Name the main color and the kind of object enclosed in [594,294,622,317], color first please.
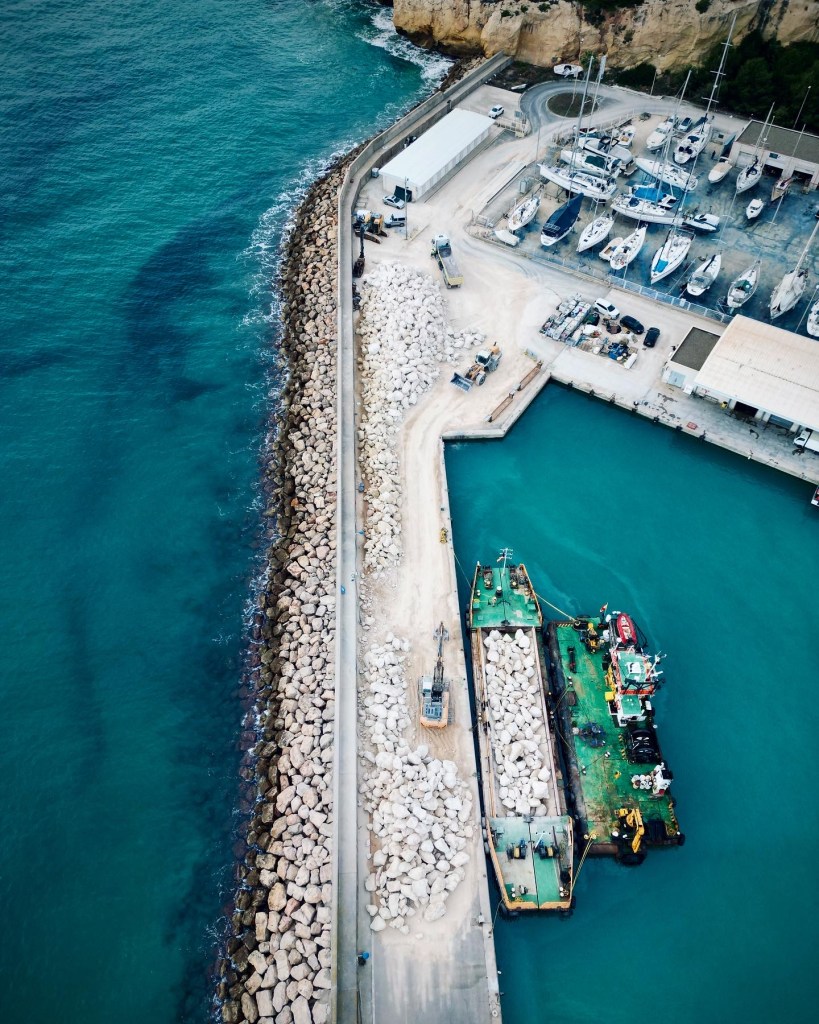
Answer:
white car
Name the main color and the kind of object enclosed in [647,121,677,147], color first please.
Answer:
white boat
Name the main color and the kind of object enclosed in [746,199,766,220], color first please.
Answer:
white boat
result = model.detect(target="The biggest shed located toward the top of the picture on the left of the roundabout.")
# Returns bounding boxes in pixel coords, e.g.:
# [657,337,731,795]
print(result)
[377,107,501,210]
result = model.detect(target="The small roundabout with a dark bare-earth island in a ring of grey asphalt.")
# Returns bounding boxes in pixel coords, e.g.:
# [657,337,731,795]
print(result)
[548,92,597,117]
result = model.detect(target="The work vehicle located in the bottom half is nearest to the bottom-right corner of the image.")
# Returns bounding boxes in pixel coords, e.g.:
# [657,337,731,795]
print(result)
[417,615,452,723]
